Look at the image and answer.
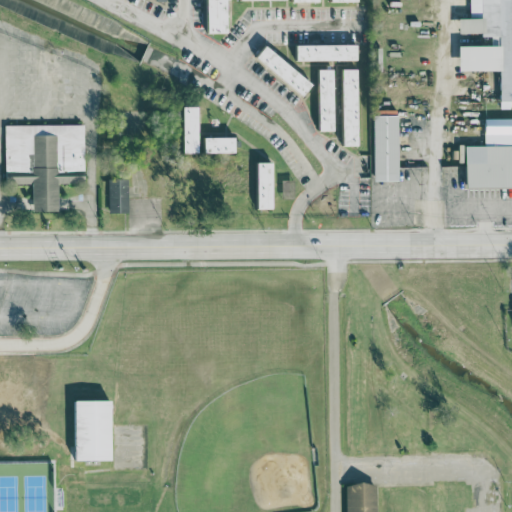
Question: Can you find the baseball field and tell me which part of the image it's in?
bottom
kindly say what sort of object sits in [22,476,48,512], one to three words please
tennis court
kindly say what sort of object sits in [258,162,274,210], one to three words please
building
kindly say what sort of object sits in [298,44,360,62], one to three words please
building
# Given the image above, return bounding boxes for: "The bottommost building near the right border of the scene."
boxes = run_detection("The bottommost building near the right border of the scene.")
[468,146,512,188]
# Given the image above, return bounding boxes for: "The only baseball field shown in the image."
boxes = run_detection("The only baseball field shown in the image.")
[176,374,315,512]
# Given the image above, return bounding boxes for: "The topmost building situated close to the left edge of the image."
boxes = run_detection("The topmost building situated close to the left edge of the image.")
[5,124,86,212]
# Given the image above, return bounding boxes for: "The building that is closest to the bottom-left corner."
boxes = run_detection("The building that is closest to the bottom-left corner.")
[74,402,112,463]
